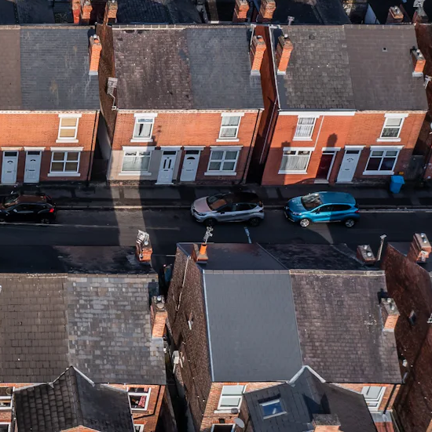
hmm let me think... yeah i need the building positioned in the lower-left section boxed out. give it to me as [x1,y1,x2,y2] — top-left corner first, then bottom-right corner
[0,212,168,432]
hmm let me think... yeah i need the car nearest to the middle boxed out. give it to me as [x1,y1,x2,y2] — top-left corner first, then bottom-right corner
[188,190,267,227]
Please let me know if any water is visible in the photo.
No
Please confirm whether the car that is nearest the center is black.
Yes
